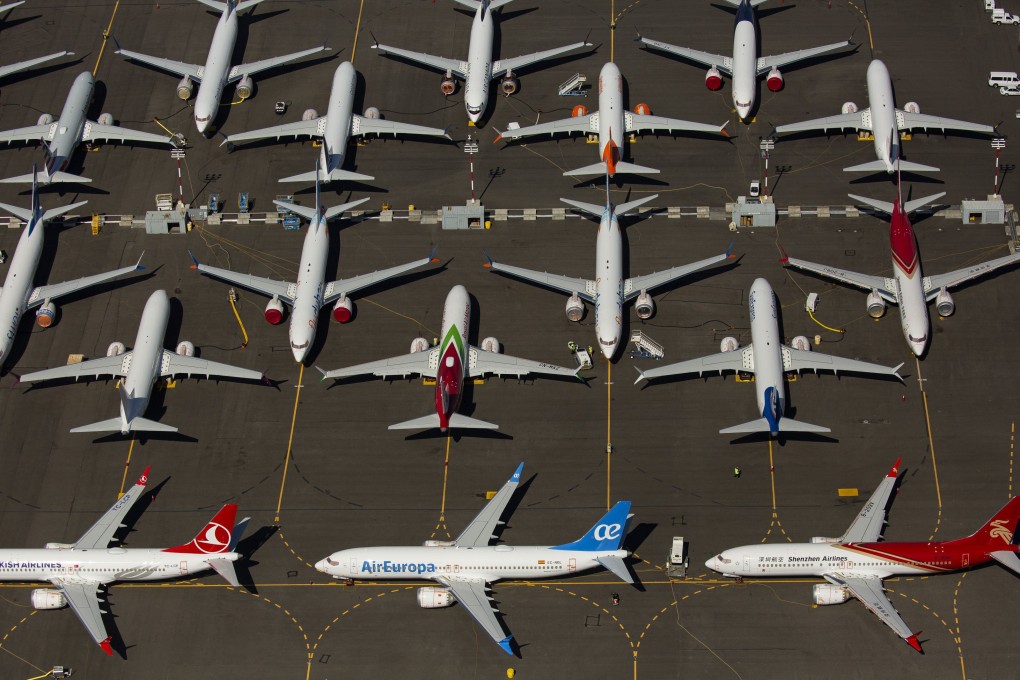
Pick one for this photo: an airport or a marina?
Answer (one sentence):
The picture captures an airport.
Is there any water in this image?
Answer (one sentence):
No, there is no water in the image.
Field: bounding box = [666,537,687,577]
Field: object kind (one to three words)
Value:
vehicle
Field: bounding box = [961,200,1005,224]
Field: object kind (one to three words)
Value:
shed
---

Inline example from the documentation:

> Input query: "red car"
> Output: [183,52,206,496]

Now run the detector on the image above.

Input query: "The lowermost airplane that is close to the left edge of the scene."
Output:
[0,465,250,657]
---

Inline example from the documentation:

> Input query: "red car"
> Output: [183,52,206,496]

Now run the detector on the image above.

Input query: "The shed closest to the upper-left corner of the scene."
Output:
[143,211,188,234]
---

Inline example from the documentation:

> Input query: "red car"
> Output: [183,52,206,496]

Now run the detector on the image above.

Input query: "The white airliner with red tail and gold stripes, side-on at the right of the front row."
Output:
[706,458,1020,653]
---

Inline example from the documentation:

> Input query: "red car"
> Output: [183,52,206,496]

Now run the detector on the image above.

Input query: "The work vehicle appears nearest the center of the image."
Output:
[575,344,594,366]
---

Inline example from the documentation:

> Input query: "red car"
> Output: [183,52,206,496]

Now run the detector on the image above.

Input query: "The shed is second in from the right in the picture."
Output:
[732,203,776,227]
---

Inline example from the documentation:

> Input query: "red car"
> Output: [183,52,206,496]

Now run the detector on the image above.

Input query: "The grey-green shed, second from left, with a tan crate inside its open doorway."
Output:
[441,206,485,229]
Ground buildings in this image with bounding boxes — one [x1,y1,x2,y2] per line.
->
[732,203,776,227]
[961,200,1005,224]
[143,211,188,234]
[441,206,485,229]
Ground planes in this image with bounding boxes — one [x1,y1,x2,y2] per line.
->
[0,465,250,657]
[8,286,272,434]
[0,72,177,185]
[778,156,1020,358]
[189,160,438,362]
[636,283,904,434]
[318,283,584,432]
[371,0,592,125]
[0,165,149,366]
[635,0,857,122]
[494,63,728,177]
[316,461,635,655]
[767,60,1004,174]
[218,69,451,183]
[113,0,331,133]
[706,458,1020,653]
[483,158,734,360]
